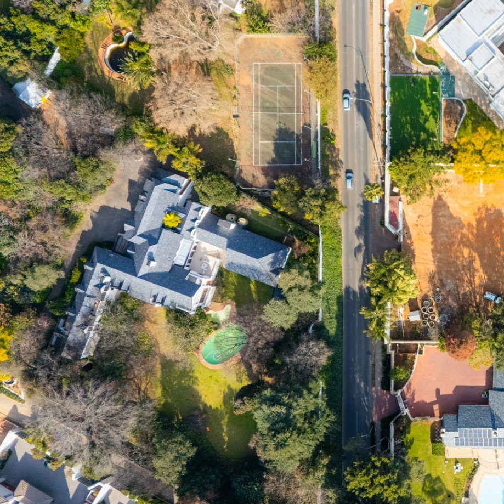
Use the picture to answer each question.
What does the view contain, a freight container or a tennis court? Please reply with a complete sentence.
I can see a tennis court in this picture.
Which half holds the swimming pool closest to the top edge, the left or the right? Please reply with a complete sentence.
The swimming pool closest to the top edge appears in the left half of the scene.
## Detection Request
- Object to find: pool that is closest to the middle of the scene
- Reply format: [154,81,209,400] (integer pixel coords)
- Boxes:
[204,301,236,328]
